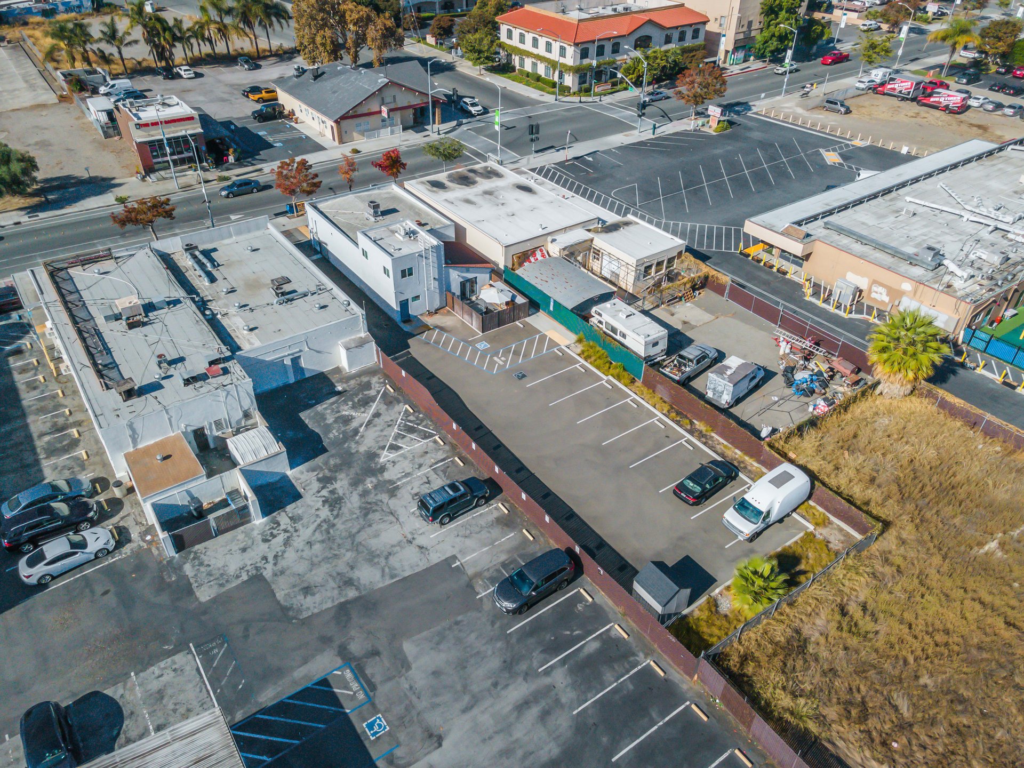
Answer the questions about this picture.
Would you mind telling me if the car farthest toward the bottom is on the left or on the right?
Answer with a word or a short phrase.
left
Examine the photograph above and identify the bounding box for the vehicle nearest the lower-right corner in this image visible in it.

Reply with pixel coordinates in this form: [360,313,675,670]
[714,468,809,547]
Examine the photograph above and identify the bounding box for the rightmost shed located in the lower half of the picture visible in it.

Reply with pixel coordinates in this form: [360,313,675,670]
[627,556,695,624]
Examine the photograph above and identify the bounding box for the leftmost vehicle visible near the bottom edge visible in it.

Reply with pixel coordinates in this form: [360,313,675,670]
[13,698,84,768]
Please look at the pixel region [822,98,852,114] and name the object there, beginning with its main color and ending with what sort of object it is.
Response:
gray car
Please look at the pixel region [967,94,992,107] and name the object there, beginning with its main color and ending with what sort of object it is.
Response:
white vehicle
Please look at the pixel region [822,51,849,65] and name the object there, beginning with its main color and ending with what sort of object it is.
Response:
red vehicle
